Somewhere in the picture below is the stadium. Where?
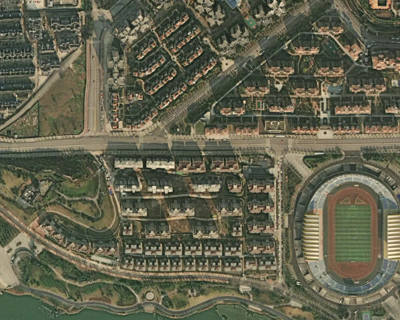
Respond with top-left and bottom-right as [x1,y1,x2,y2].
[288,156,400,312]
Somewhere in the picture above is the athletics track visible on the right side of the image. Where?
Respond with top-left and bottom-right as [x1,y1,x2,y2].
[329,188,377,280]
